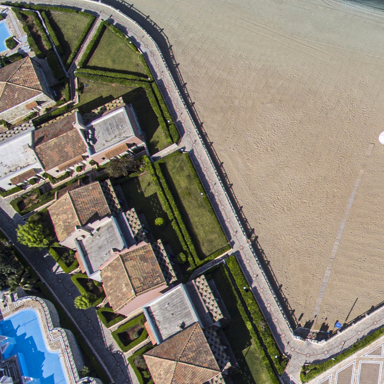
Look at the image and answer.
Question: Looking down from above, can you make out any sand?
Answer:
Yes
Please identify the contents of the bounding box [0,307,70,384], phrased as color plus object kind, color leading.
blue swimming pool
